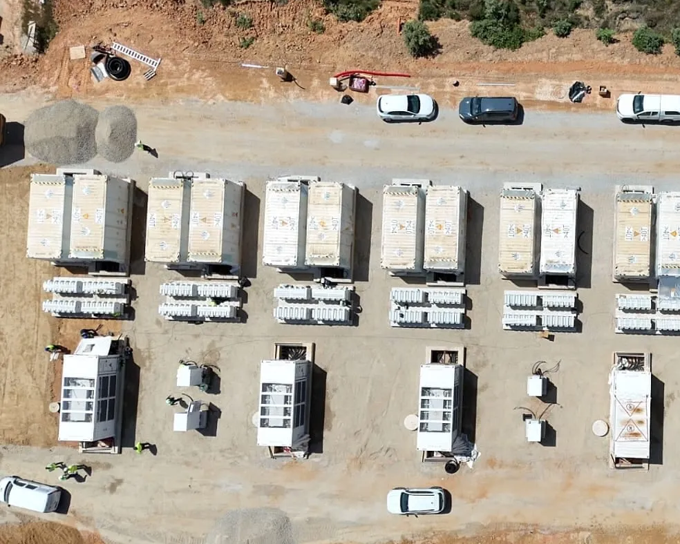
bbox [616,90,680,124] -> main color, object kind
white truck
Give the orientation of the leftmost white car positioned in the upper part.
from left to right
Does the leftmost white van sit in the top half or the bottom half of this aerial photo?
bottom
